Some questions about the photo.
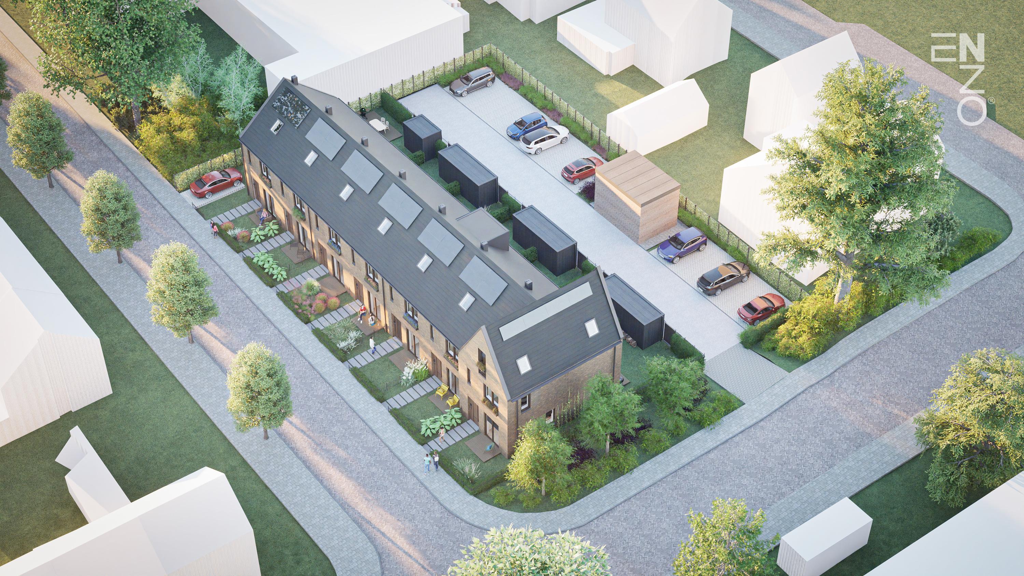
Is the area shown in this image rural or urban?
urban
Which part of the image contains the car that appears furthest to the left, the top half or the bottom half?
top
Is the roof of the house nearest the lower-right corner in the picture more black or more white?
white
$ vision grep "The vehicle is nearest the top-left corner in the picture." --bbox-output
[187,166,244,198]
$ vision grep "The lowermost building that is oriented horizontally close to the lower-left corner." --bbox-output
[0,467,261,576]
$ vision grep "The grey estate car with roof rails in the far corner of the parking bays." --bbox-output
[448,65,497,98]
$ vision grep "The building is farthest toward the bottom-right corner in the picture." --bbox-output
[864,473,1024,576]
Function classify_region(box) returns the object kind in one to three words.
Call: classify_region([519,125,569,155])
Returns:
car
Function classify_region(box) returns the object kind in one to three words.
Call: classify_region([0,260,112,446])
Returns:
house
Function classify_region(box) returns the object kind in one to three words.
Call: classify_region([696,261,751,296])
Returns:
car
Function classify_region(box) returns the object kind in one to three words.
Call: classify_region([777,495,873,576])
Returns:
building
